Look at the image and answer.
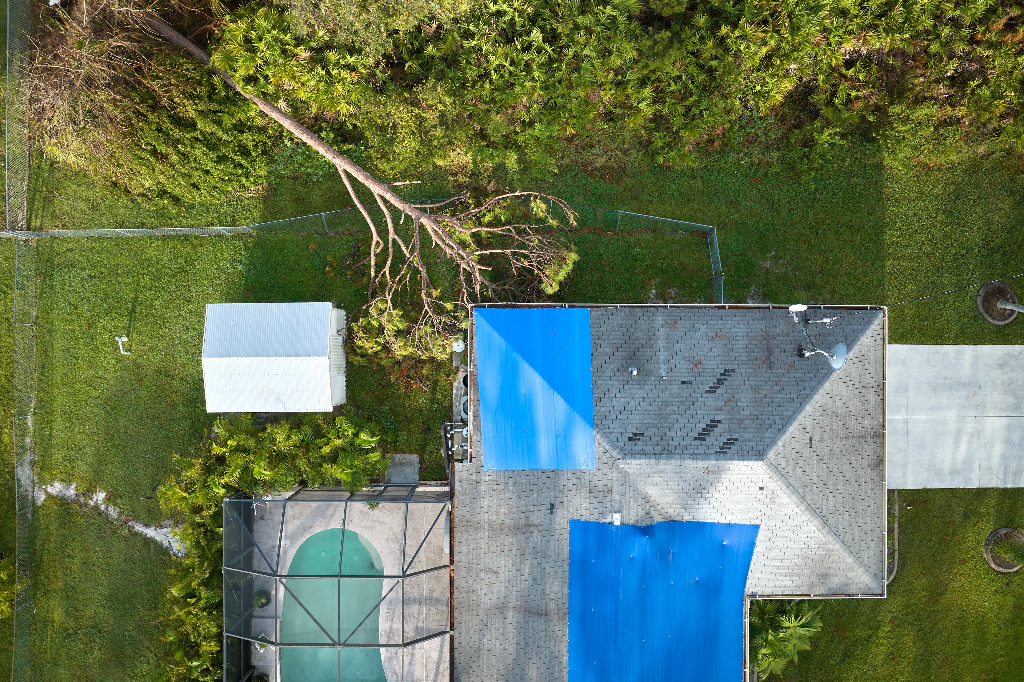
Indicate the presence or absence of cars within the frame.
No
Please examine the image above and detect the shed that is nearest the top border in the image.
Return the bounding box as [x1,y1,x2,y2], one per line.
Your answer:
[201,303,346,412]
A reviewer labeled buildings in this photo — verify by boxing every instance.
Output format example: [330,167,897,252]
[449,305,888,682]
[201,303,346,412]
